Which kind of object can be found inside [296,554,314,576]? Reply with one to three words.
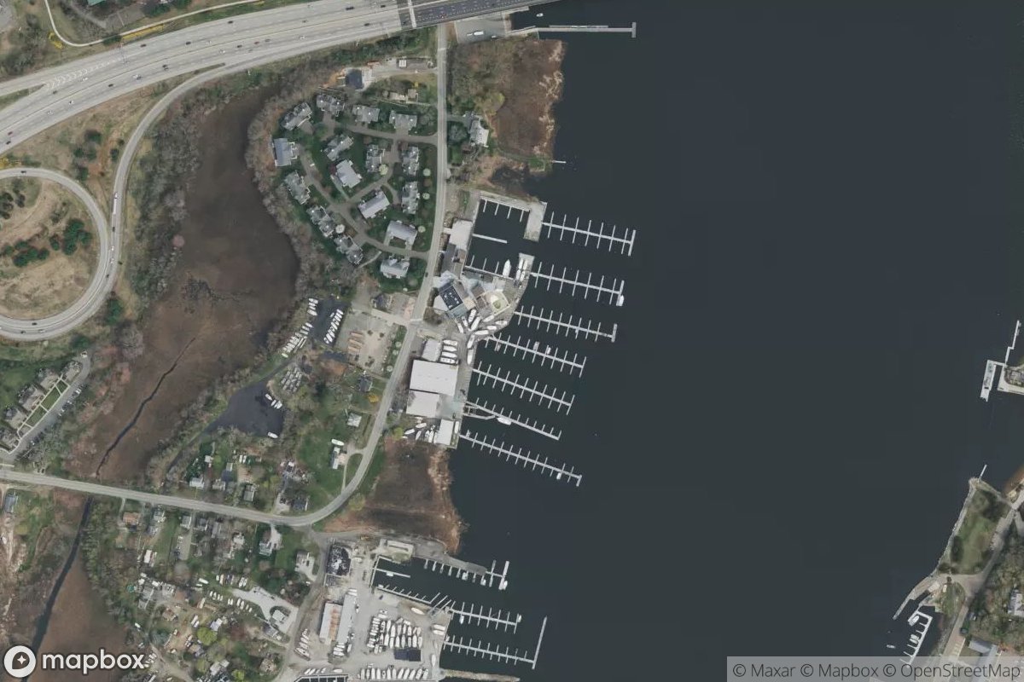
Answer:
house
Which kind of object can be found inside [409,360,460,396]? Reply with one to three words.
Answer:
shed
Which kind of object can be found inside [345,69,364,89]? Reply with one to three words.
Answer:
building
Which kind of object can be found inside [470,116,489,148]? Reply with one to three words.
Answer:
house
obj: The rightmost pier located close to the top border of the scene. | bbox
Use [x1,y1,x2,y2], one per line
[534,22,636,37]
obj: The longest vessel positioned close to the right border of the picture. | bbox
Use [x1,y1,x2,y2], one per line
[981,360,1004,401]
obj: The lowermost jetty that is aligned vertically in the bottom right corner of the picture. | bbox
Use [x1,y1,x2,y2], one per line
[900,604,933,666]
